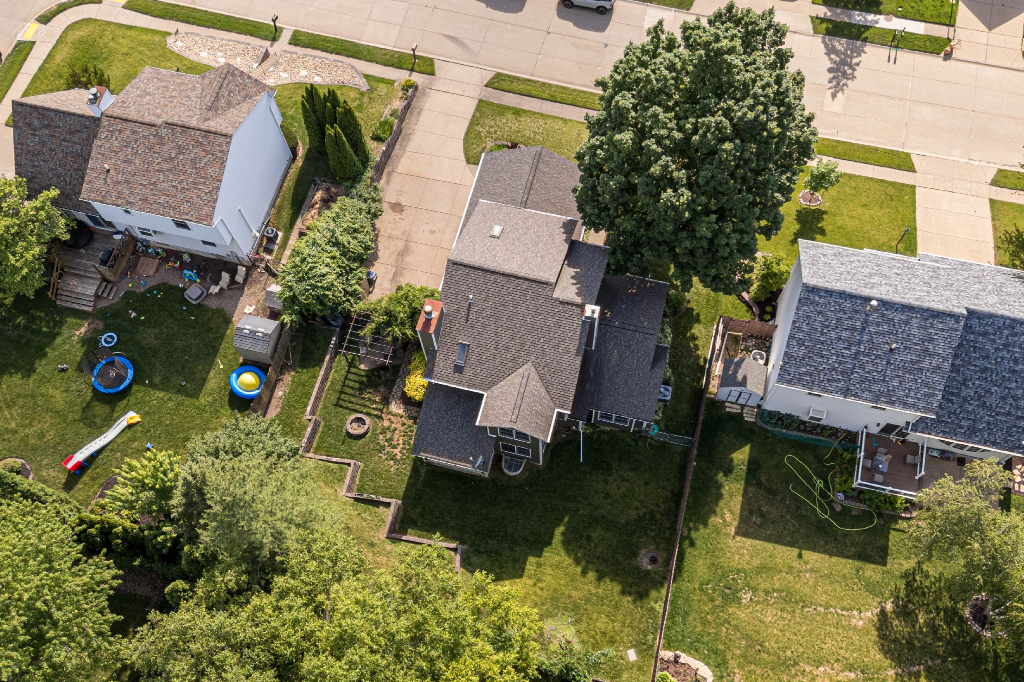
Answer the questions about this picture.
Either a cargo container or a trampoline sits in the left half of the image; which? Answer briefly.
trampoline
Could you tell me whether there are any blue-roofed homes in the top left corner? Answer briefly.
No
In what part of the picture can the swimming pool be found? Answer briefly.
left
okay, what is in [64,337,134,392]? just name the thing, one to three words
trampoline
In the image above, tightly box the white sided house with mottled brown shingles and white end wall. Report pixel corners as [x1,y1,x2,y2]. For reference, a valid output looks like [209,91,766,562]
[13,57,298,267]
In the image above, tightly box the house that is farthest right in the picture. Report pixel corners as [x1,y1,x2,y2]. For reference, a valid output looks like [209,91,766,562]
[761,238,1024,469]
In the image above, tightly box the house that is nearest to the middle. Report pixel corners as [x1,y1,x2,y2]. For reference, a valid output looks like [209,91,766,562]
[411,140,675,485]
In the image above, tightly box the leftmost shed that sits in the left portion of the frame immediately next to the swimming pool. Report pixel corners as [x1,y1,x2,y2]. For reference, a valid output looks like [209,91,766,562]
[231,313,280,362]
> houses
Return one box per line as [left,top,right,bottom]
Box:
[761,238,1024,469]
[13,57,298,267]
[411,140,675,485]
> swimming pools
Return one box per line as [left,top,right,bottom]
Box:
[227,362,265,402]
